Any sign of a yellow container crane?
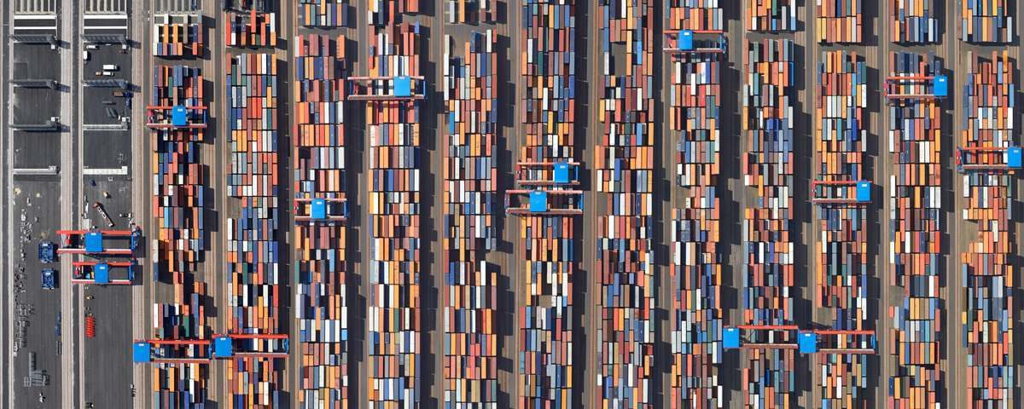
No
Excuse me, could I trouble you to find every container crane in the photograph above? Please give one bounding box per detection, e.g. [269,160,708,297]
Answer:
[294,195,353,225]
[211,329,295,360]
[797,325,879,357]
[956,144,1024,175]
[133,336,216,366]
[146,103,214,133]
[880,74,951,104]
[348,74,429,106]
[516,159,584,190]
[721,321,798,351]
[660,28,727,58]
[808,177,876,207]
[72,258,142,288]
[58,227,142,258]
[505,187,586,219]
